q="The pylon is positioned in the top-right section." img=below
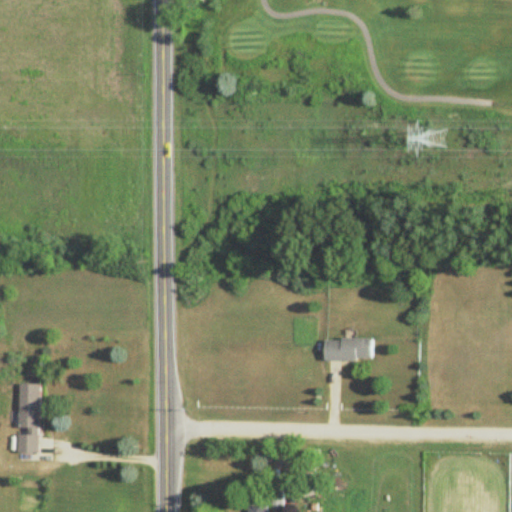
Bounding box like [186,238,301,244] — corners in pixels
[408,120,448,158]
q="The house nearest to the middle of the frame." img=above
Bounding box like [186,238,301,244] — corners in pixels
[322,332,374,360]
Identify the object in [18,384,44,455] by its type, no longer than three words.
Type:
house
